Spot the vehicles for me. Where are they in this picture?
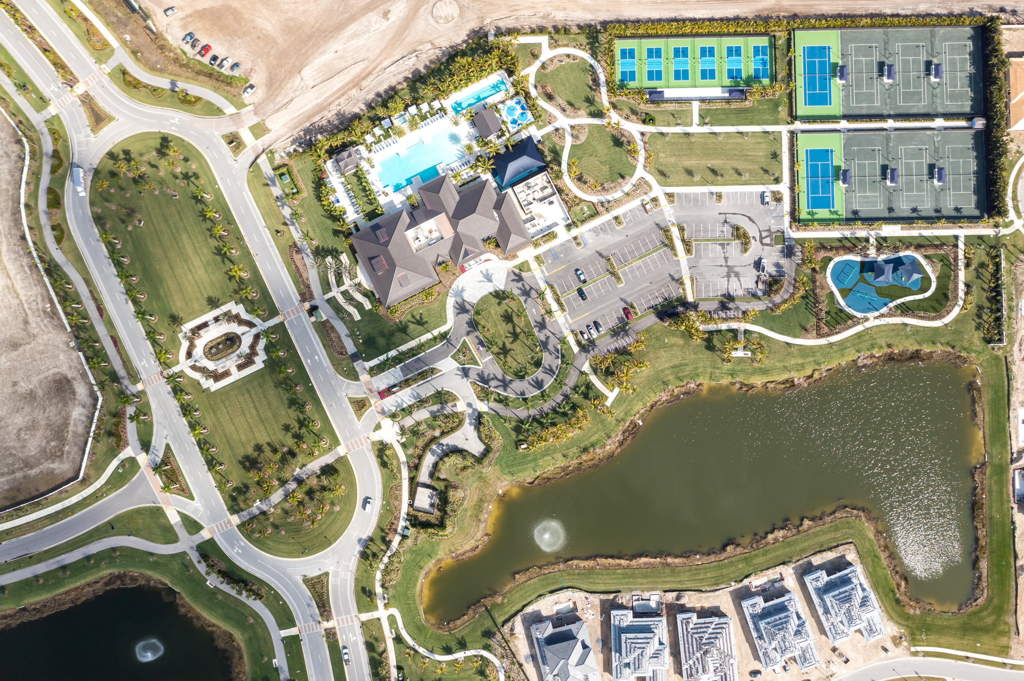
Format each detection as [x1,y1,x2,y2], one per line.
[344,649,351,666]
[577,288,587,301]
[217,57,232,71]
[588,326,597,338]
[784,661,791,674]
[580,330,588,340]
[191,38,201,50]
[183,32,195,44]
[594,322,604,334]
[197,44,212,57]
[243,83,257,97]
[761,259,767,274]
[230,62,242,73]
[623,307,633,320]
[364,499,373,514]
[575,269,587,284]
[642,201,653,215]
[774,667,782,679]
[73,164,88,194]
[209,54,219,67]
[165,7,177,16]
[763,192,770,205]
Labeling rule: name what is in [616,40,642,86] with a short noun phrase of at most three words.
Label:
sports court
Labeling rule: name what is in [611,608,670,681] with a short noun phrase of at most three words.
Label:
house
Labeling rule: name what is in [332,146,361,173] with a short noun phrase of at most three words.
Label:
gazebo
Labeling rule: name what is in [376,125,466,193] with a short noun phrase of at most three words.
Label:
swimming pool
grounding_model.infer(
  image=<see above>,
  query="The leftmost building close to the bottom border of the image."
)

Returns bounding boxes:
[530,619,600,681]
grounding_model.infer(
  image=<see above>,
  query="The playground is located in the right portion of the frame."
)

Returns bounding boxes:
[826,250,937,318]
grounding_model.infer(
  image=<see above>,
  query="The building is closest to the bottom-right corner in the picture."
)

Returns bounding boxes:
[804,567,886,646]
